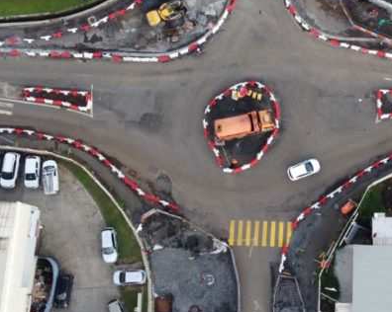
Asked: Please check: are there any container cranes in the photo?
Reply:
No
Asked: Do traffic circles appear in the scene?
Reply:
Yes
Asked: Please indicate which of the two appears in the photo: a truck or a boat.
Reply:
truck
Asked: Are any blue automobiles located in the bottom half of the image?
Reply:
No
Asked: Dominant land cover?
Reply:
paved ground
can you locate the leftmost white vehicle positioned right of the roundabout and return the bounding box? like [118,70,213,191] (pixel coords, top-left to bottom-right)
[287,160,320,180]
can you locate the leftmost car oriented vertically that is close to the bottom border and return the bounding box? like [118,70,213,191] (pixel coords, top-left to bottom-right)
[54,272,77,311]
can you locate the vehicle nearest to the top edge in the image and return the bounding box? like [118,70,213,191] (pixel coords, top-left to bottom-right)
[145,0,197,26]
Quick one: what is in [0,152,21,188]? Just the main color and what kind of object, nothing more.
white car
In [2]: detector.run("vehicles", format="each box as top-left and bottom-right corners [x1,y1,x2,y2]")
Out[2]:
[106,300,125,312]
[287,160,320,180]
[23,157,41,188]
[211,106,274,145]
[145,0,197,26]
[100,227,119,266]
[40,158,60,198]
[0,152,21,188]
[112,269,146,286]
[54,272,77,311]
